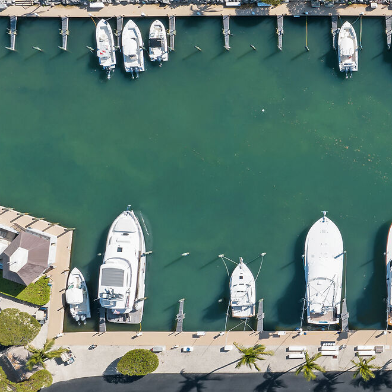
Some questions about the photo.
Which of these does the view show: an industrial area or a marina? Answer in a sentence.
The picture captures a marina.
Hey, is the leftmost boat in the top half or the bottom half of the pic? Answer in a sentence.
The bottom half of the photo is where the leftmost boat is.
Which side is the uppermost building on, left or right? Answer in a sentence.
You can find the uppermost building on the left side of the picture.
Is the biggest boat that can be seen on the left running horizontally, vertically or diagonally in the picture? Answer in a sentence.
What the image shows is the biggest boat that can be seen on the left lying vertically.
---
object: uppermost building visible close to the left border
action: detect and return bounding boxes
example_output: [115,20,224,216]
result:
[3,233,59,286]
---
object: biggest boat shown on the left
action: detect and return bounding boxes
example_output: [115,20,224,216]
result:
[98,208,148,322]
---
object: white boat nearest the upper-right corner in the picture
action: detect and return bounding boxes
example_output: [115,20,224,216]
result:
[337,21,360,79]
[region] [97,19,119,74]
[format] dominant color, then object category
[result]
white boat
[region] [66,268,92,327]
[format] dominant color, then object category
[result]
white boat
